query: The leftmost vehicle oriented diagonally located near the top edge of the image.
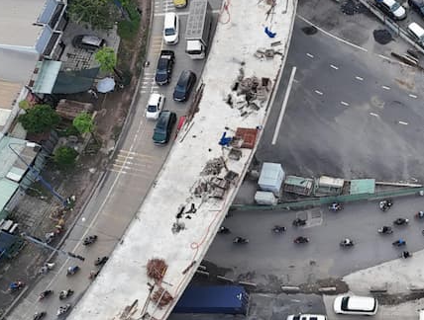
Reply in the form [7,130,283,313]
[372,0,408,24]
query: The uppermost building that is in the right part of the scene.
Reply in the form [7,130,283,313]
[258,162,288,197]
